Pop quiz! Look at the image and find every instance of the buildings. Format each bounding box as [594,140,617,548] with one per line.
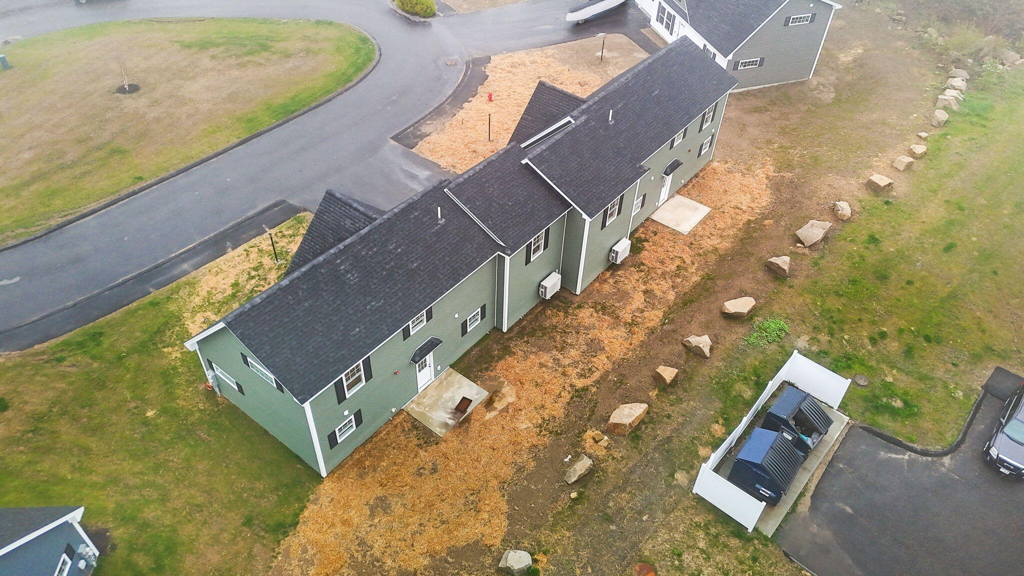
[185,37,737,478]
[0,505,100,576]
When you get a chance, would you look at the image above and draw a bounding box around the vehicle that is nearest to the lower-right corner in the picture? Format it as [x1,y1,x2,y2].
[984,390,1024,481]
